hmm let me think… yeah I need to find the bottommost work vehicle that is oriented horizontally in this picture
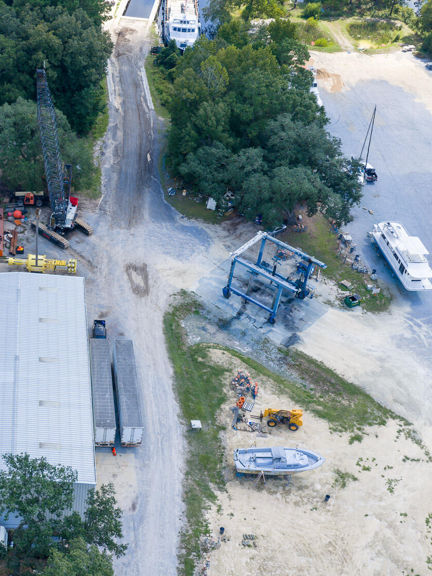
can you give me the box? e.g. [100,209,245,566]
[251,407,311,430]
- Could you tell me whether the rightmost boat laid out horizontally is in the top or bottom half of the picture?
bottom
